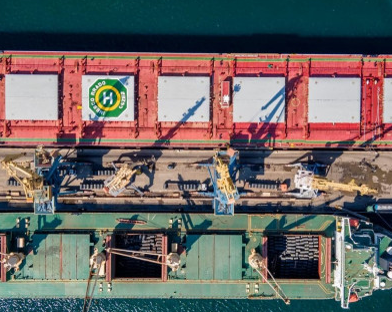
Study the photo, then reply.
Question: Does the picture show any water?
Yes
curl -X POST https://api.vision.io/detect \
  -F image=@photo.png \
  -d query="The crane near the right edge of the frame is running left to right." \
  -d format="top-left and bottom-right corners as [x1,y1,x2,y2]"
[280,162,380,196]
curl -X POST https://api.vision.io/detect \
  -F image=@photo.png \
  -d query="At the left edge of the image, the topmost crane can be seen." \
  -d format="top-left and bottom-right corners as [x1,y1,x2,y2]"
[0,150,75,213]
